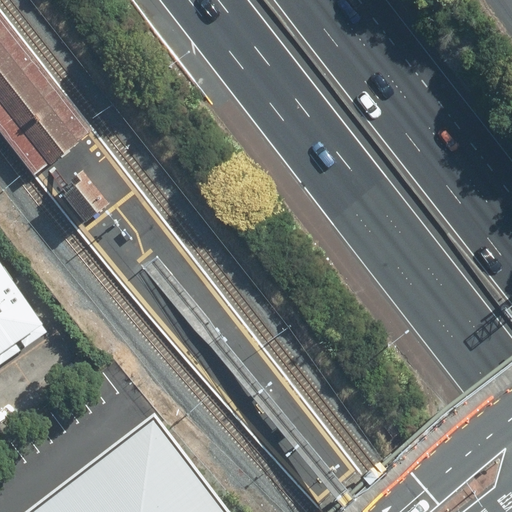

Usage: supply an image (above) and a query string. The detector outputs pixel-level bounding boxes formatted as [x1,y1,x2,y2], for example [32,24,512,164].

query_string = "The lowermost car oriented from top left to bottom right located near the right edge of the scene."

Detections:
[476,246,502,275]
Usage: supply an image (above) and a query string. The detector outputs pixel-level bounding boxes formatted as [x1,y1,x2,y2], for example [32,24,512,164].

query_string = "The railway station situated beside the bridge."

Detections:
[0,46,362,508]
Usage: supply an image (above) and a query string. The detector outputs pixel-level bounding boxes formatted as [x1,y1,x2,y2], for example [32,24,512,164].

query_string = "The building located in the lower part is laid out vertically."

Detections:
[0,256,48,365]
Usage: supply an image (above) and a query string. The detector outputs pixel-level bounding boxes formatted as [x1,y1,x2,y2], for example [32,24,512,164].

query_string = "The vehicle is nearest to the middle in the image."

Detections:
[310,140,334,168]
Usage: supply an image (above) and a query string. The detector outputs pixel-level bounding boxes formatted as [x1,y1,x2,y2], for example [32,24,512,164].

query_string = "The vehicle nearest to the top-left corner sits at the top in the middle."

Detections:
[194,0,218,22]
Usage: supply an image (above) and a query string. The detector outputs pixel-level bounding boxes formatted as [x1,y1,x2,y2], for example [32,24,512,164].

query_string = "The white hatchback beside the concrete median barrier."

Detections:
[356,90,382,120]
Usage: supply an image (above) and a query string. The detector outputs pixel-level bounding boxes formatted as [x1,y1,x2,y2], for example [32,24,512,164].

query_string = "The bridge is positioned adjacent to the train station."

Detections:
[336,360,512,512]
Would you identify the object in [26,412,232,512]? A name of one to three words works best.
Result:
building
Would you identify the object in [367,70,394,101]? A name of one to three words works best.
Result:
car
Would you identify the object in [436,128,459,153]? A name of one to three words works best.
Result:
car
